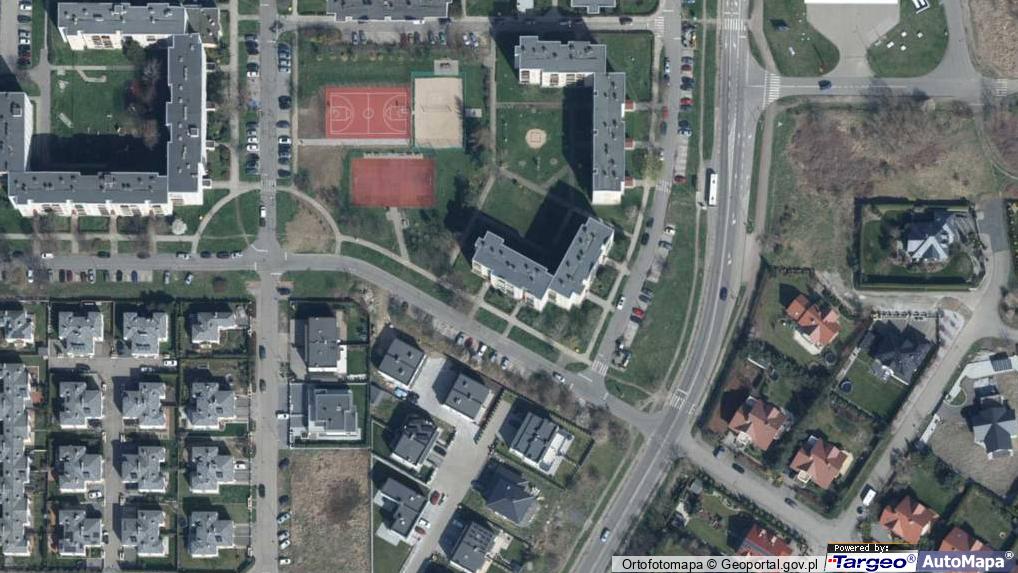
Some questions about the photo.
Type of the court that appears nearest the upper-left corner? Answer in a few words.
basketball court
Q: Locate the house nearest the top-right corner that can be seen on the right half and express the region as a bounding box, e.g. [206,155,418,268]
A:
[907,212,956,265]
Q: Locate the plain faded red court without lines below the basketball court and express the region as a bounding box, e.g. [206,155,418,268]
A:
[352,158,435,208]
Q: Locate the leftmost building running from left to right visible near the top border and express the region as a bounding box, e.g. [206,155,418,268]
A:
[58,2,189,51]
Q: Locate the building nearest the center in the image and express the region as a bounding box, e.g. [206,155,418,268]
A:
[472,232,555,308]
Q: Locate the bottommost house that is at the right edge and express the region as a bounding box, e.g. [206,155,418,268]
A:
[928,524,987,573]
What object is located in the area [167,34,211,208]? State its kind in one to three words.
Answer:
building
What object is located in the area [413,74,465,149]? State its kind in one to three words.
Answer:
sports court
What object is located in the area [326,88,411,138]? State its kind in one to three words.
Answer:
basketball court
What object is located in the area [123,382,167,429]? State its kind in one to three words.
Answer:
house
